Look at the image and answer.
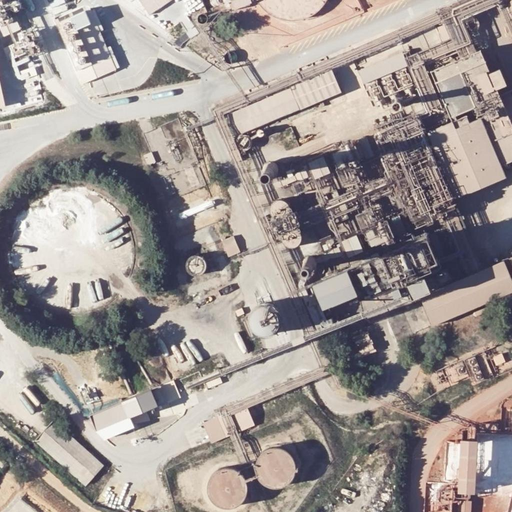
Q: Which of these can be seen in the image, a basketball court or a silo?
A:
silo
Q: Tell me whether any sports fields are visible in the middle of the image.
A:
No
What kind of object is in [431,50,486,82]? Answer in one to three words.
building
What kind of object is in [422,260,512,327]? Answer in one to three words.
shed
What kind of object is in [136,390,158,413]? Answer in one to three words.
building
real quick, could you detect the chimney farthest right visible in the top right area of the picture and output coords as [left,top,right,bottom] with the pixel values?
[392,96,404,111]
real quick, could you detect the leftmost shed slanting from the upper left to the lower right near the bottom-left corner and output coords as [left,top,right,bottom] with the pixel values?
[37,424,104,486]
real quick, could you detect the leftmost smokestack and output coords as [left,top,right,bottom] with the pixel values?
[260,159,280,184]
